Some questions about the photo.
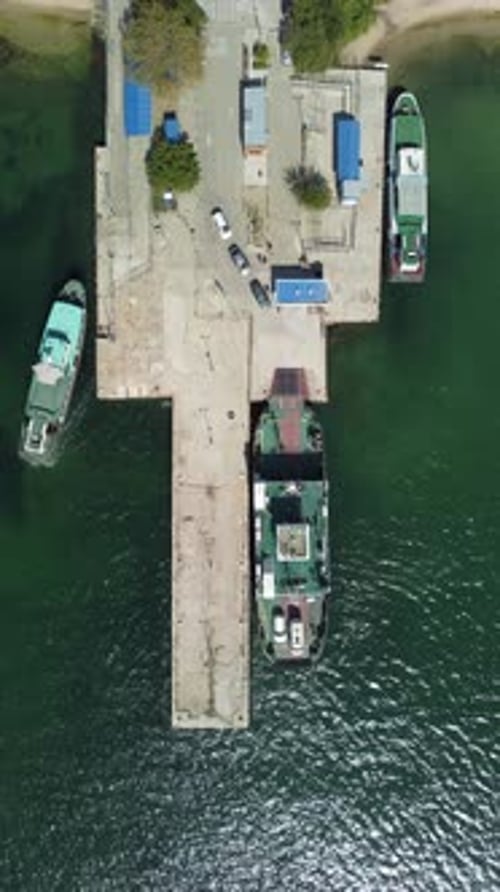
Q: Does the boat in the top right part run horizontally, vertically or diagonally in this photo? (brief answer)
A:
vertically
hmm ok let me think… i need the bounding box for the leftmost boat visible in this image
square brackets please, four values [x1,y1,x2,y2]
[24,281,87,459]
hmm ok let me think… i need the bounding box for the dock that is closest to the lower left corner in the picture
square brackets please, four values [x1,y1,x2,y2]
[172,398,250,728]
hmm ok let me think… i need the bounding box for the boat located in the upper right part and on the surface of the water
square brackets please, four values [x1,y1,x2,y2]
[388,91,425,283]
